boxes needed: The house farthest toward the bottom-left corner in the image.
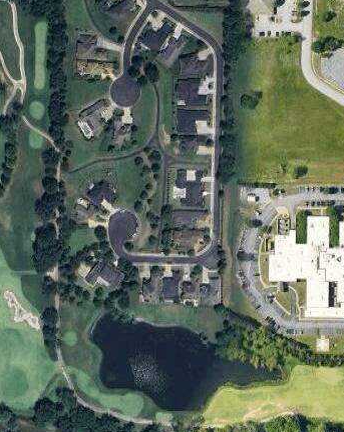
[83,261,124,287]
